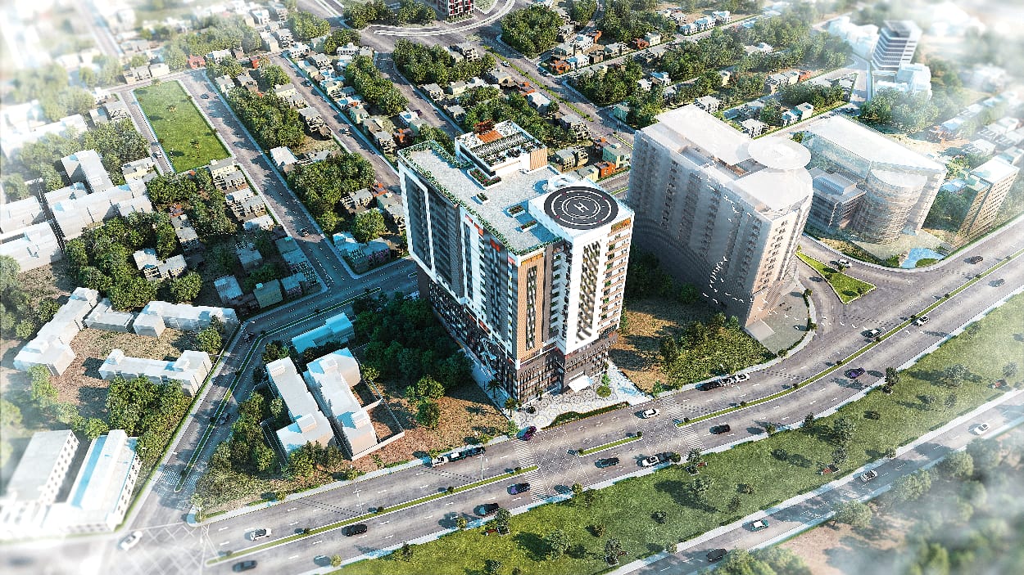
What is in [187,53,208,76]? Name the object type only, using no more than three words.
house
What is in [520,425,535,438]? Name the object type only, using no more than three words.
vehicle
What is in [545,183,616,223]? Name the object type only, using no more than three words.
helipad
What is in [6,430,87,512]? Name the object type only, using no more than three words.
building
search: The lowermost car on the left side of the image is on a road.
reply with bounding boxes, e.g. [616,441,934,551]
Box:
[234,559,255,572]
